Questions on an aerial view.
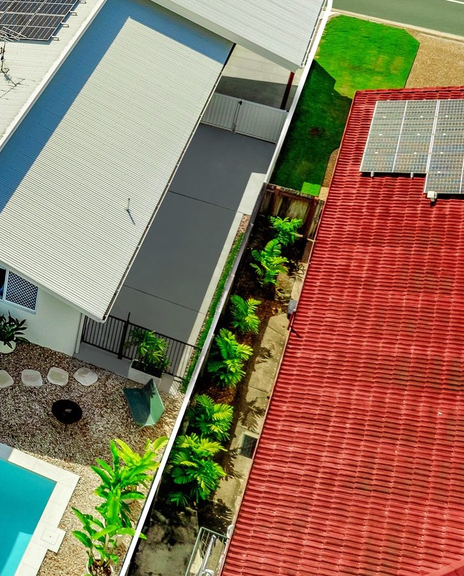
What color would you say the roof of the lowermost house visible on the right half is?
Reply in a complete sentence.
The color of the roof on the lowermost house visible on the right half is red.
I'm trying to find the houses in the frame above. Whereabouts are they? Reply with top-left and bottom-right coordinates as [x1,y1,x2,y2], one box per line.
[0,0,237,357]
[213,82,464,576]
